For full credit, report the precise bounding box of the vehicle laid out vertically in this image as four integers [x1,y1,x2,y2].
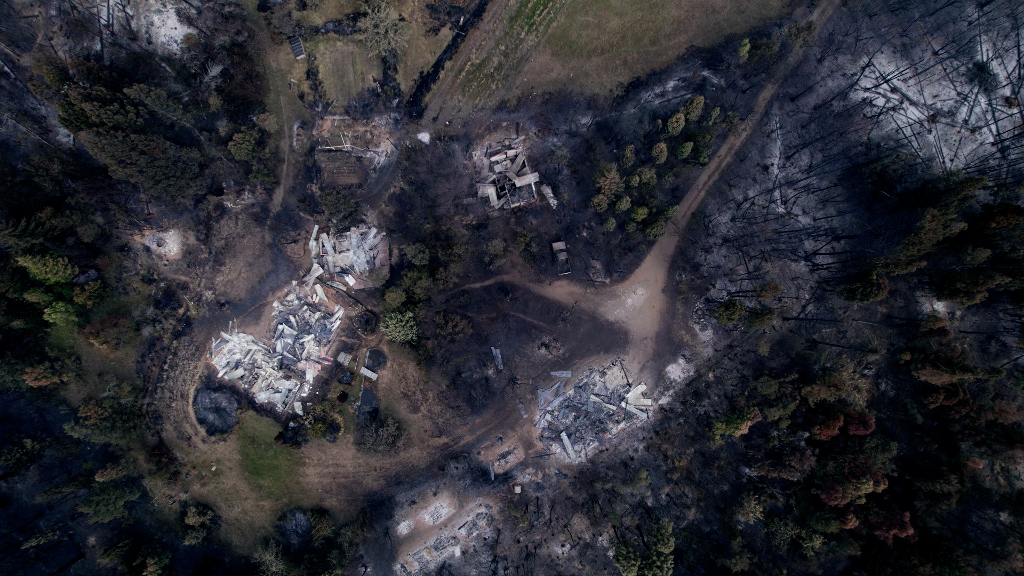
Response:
[552,241,569,275]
